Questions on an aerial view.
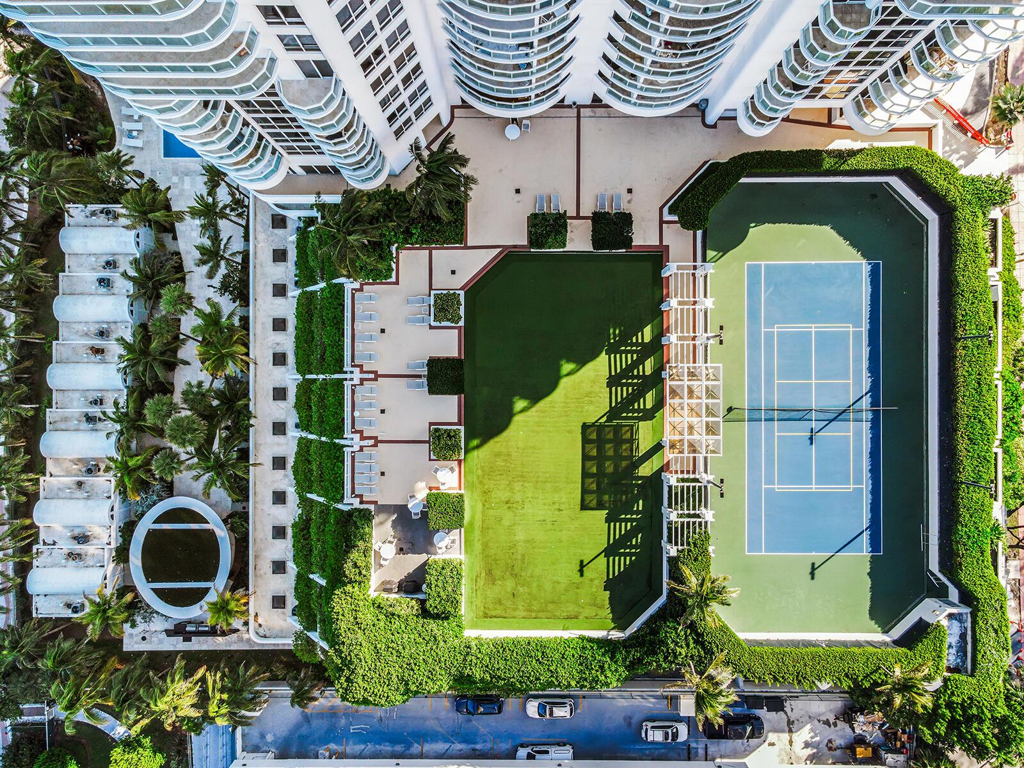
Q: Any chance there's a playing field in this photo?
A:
Yes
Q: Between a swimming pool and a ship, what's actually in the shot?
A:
swimming pool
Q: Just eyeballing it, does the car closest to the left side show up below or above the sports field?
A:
below it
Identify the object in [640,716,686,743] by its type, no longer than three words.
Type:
car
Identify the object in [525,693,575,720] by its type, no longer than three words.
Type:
car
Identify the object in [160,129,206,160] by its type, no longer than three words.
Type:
swimming pool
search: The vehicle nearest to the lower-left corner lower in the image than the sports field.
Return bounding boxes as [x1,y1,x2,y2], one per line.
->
[455,692,503,719]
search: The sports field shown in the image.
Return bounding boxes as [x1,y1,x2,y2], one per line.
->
[465,251,662,630]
